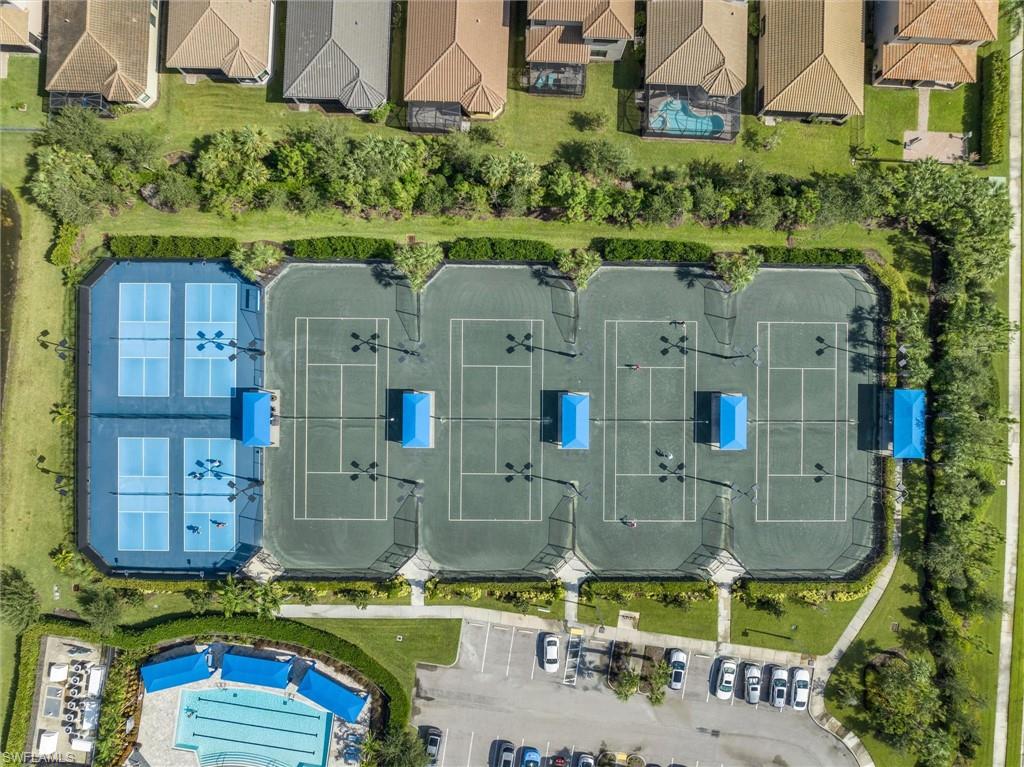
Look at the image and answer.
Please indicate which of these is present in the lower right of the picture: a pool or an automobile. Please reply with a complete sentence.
It is an automobile that can be seen in the lower right of the picture.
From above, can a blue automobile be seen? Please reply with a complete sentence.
Yes, I can see a blue automobile in this picture.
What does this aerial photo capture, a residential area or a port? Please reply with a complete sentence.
It's a residential area.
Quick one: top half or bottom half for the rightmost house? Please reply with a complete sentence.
You can find the rightmost house in the top half.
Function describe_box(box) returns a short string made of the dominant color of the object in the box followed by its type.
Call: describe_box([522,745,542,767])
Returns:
blue car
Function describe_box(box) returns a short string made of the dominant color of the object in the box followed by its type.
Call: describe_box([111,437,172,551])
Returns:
blue sports court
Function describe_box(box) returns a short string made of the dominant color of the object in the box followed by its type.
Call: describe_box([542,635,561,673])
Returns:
white car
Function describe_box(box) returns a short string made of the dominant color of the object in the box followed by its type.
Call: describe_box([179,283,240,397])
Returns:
blue sports court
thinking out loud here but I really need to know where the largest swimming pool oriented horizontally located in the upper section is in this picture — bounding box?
[649,97,725,135]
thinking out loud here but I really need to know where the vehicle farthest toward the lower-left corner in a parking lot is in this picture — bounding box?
[423,728,443,767]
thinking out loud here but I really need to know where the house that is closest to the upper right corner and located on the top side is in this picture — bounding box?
[873,0,998,87]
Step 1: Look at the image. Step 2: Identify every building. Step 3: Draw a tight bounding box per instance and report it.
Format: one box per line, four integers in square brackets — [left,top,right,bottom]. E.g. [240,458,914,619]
[645,0,746,105]
[873,0,998,87]
[525,0,634,71]
[45,0,158,110]
[757,0,865,120]
[405,0,507,121]
[165,0,275,88]
[0,0,41,53]
[284,0,390,118]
